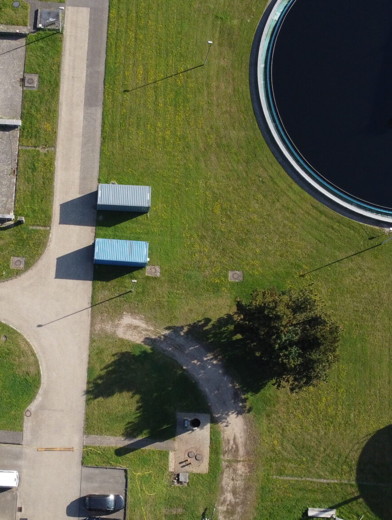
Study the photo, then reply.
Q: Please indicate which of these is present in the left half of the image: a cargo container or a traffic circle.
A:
cargo container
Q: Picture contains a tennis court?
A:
No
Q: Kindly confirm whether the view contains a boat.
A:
No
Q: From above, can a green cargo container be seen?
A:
No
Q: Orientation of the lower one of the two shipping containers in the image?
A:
from left to right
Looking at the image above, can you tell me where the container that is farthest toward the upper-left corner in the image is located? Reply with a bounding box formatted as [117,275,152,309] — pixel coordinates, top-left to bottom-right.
[97,184,151,213]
